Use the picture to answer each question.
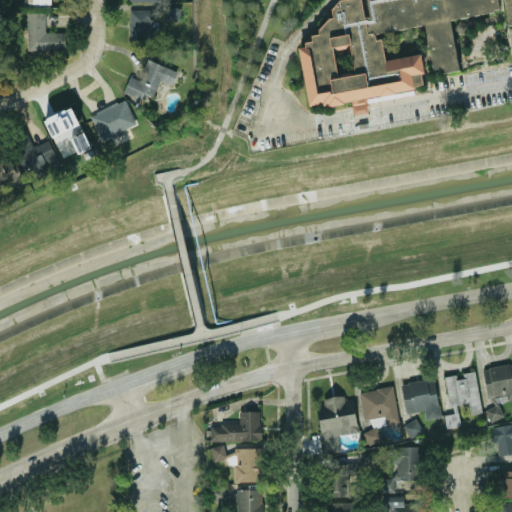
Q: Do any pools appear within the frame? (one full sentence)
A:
Yes, this view includes a pool.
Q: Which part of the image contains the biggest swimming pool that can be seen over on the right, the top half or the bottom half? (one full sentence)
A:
You can find the biggest swimming pool that can be seen over on the right in the bottom half.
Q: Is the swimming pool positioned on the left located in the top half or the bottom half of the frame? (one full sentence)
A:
It is in the top half that the swimming pool positioned on the left appears.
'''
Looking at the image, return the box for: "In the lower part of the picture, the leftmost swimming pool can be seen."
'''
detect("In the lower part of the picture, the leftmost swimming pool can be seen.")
[340,430,362,452]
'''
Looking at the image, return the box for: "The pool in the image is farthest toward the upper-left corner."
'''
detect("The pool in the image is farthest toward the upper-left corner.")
[156,82,182,115]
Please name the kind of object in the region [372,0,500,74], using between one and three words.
building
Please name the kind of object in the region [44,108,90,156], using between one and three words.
house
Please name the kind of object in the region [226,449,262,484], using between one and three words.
house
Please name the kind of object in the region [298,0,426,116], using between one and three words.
building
